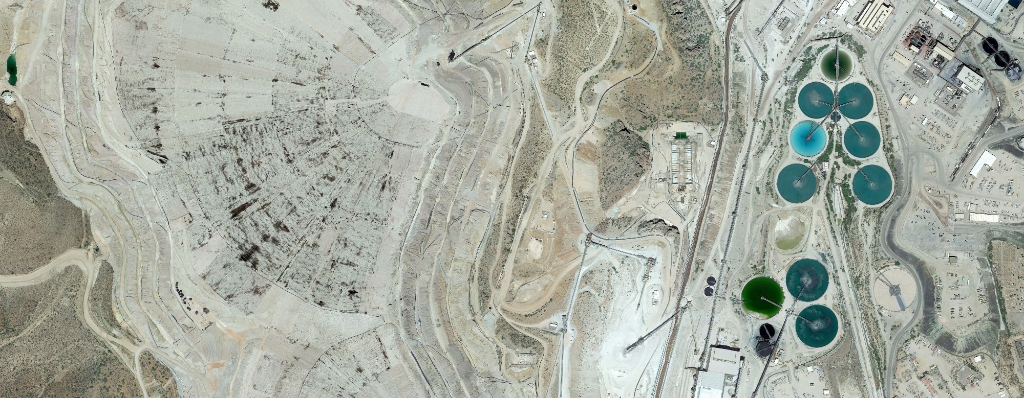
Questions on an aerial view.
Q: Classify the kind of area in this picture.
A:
industrial area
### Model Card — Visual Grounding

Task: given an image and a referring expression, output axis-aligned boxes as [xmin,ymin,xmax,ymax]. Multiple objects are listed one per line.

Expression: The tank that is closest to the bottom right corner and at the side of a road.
[873,268,917,312]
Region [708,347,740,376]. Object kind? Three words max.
building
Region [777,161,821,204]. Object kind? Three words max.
storage tank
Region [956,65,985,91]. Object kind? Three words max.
building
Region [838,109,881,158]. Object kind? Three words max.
storage tank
